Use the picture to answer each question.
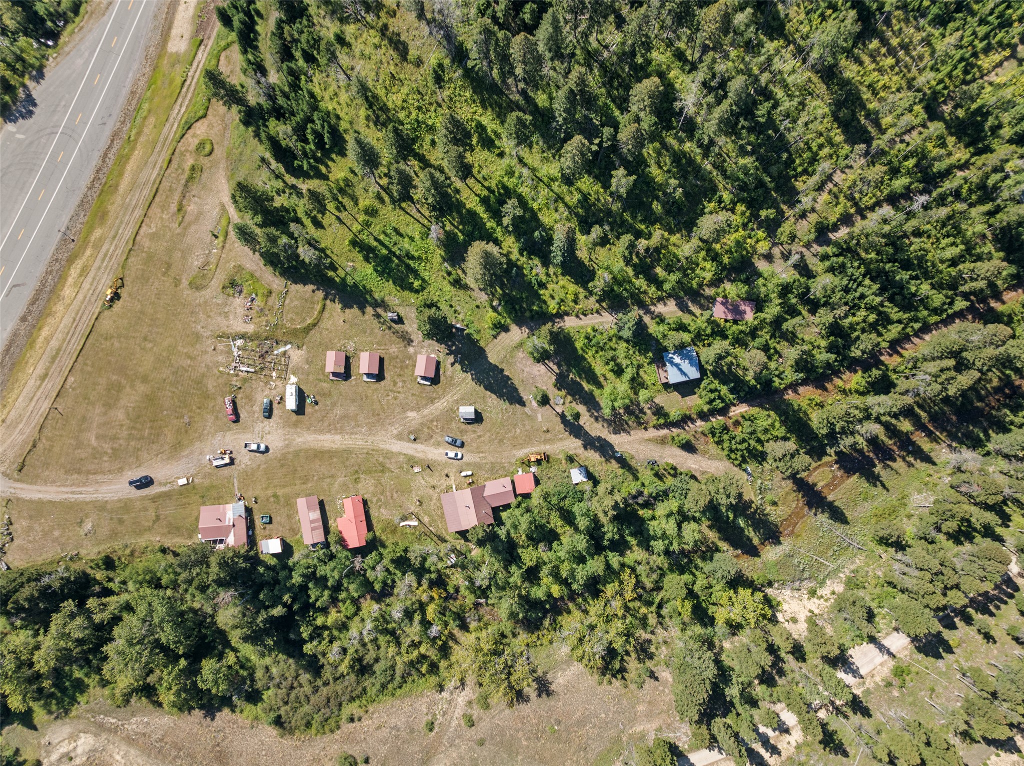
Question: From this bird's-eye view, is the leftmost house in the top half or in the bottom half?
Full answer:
Seen from above, the leftmost house lies in the bottom half of the view.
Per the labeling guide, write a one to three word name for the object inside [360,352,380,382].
building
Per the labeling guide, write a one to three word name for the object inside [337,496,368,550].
house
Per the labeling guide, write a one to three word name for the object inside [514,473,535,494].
shed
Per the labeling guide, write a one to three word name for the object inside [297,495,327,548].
barn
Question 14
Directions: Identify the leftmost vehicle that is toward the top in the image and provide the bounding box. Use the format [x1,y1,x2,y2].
[102,278,116,308]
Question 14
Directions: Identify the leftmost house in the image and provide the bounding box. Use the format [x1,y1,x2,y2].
[199,503,250,548]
